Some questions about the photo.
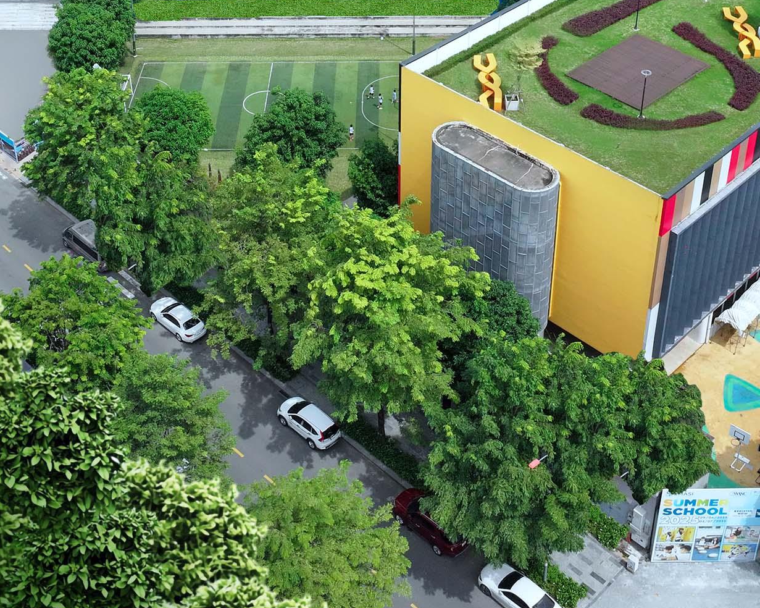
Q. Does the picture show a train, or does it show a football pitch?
football pitch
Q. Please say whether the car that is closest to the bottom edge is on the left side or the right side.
right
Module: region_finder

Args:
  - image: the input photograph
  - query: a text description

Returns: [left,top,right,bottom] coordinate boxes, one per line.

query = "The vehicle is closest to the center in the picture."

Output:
[278,398,343,452]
